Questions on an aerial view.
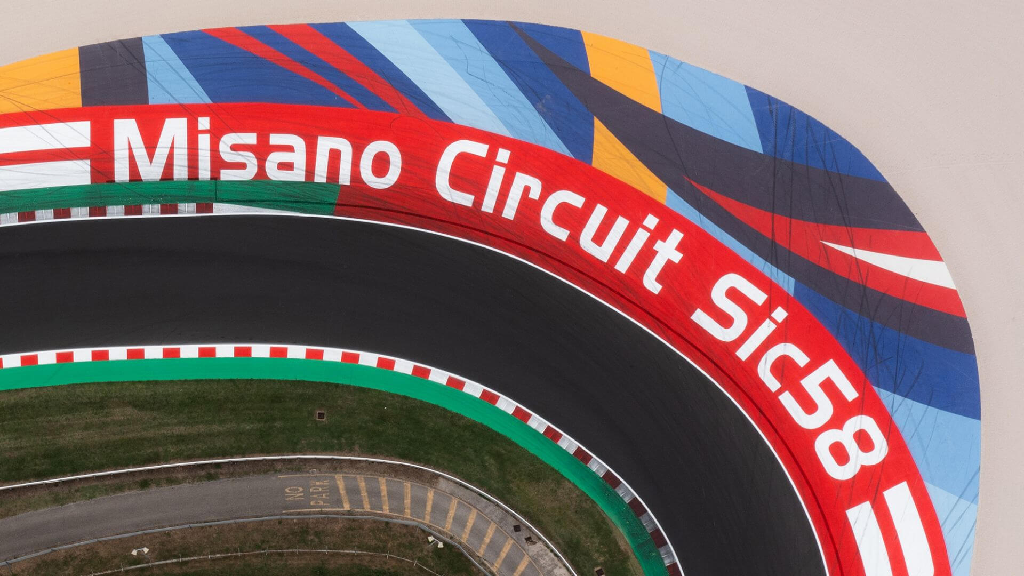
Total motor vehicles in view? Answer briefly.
0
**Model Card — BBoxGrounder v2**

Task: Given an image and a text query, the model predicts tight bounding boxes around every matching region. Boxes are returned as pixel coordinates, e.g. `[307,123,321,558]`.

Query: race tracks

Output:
[0,213,830,576]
